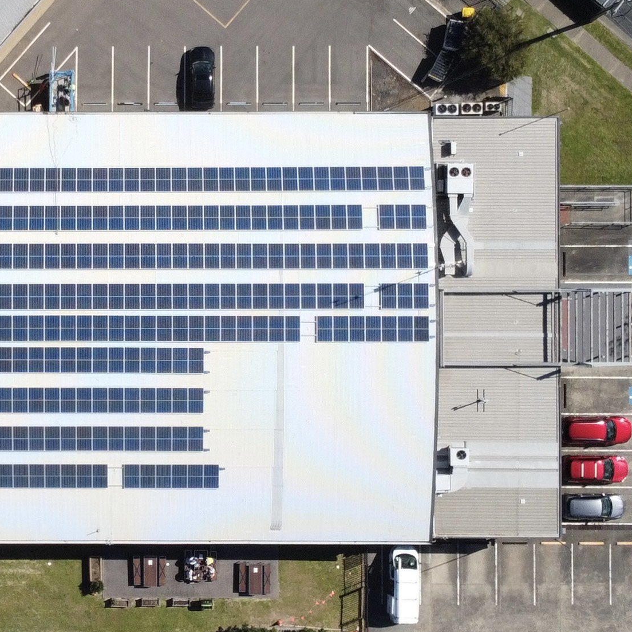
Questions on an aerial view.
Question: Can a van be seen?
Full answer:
Yes, a van appears in the view.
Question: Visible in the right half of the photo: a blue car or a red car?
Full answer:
The feature located in the right half of the photo is a red car.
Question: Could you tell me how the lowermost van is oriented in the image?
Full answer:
The lowermost van is laid out from top to bottom.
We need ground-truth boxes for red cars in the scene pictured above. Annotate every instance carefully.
[562,454,627,484]
[562,416,630,447]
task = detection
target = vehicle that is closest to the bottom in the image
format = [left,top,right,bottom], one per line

[386,544,421,623]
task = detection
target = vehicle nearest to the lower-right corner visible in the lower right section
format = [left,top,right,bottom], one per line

[562,493,622,522]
